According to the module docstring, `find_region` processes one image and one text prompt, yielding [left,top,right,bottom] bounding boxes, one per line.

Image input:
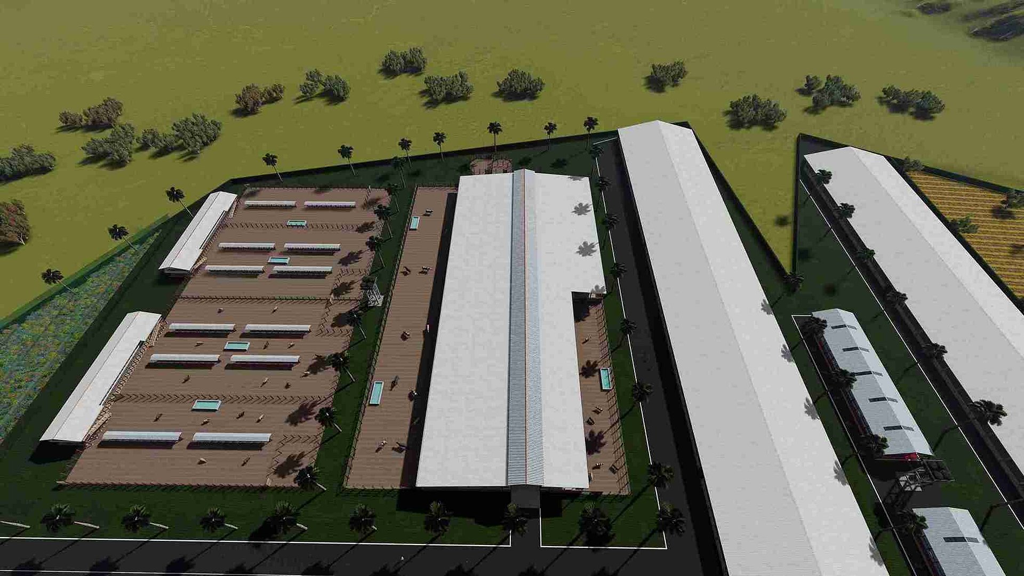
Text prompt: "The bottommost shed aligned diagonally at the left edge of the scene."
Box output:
[42,312,163,445]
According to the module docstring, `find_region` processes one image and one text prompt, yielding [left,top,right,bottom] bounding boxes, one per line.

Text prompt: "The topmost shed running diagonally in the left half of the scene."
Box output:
[161,192,238,275]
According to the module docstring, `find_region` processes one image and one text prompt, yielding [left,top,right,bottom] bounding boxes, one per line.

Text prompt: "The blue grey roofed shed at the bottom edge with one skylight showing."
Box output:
[913,506,1004,576]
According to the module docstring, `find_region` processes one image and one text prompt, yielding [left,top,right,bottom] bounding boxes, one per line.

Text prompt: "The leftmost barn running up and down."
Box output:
[418,167,605,513]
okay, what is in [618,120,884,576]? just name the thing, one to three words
barn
